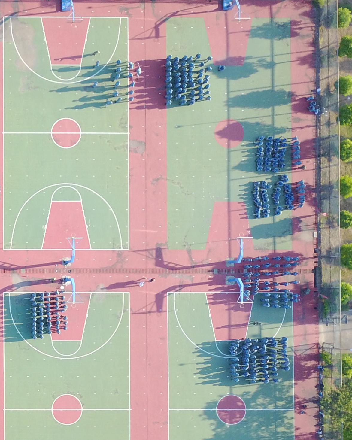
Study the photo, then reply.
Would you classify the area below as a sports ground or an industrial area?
sports ground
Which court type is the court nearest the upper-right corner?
basketball court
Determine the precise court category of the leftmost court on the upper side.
basketball court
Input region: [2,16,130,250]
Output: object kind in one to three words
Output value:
basketball court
